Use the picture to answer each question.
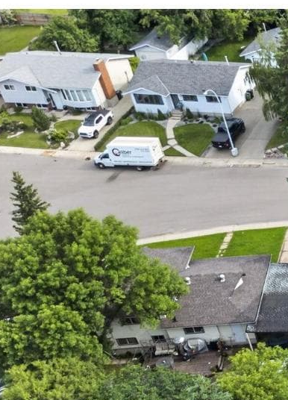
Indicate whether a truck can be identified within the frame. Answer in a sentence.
Yes, there's a truck here.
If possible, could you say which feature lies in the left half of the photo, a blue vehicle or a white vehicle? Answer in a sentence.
The one visible in the left half of the photo is a white vehicle.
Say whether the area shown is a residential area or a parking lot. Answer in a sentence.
This looks like a residential area.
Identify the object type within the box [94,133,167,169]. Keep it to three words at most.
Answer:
truck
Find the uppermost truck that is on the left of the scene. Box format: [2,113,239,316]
[75,108,115,135]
